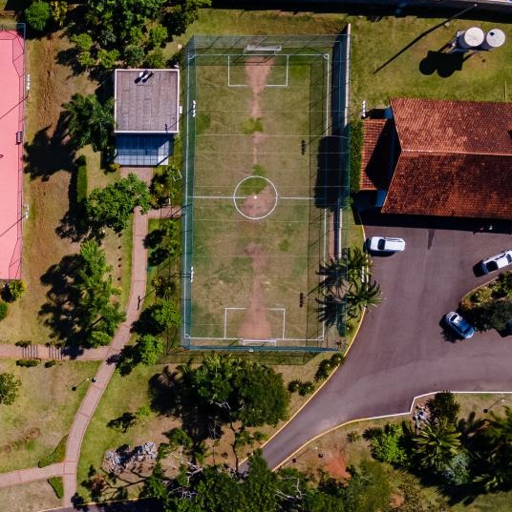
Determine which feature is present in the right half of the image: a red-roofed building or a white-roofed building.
red-roofed building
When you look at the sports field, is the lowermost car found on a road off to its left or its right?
right of it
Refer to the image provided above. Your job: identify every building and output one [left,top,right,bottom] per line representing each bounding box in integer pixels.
[110,69,179,165]
[356,98,512,221]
